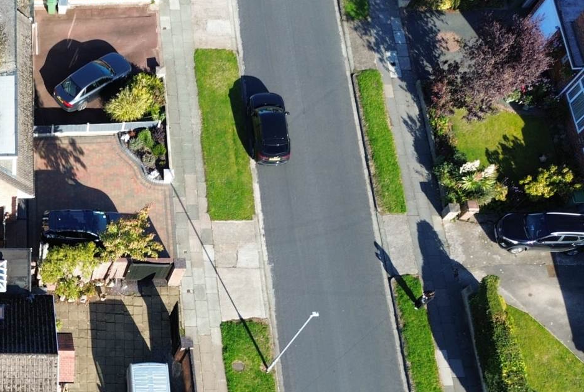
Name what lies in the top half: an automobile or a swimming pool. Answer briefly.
automobile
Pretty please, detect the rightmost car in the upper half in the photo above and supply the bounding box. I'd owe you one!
[244,94,293,168]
